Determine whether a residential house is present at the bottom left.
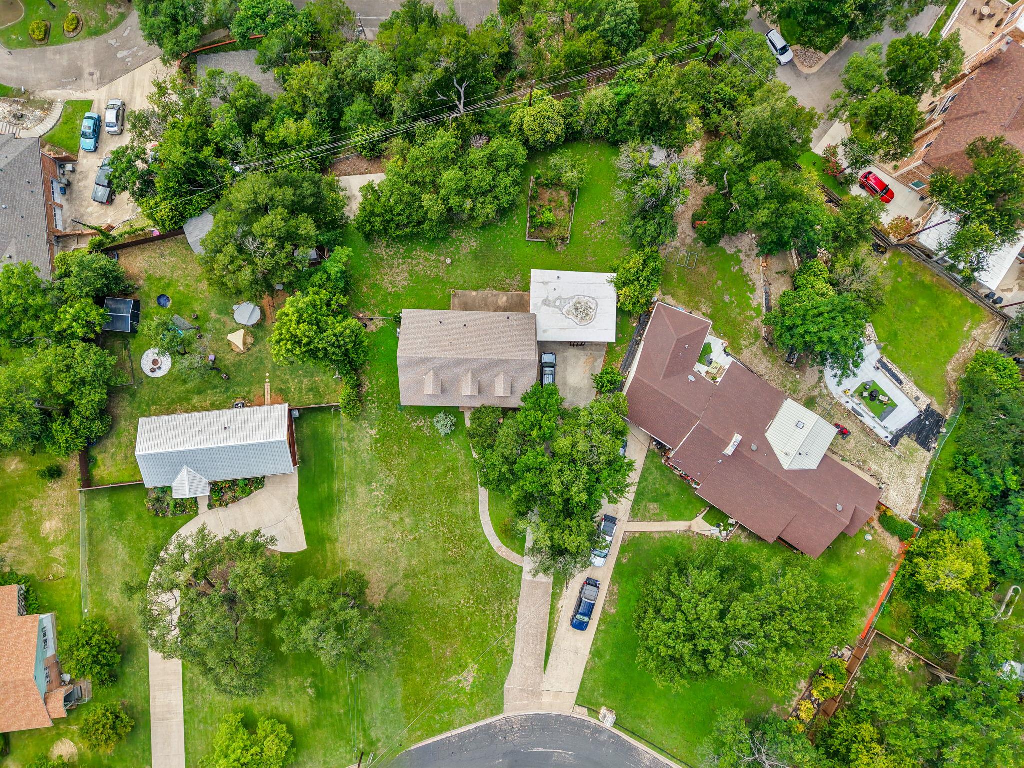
Yes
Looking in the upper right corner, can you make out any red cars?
Yes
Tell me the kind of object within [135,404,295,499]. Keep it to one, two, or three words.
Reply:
house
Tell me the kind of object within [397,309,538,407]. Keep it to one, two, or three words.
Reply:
house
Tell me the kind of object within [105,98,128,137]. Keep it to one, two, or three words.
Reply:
car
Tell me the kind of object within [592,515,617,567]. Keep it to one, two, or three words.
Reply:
truck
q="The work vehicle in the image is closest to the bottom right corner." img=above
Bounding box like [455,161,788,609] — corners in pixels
[837,425,852,440]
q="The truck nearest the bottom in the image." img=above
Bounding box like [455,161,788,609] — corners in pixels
[573,578,599,632]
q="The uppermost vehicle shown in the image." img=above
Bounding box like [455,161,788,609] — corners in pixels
[764,30,794,69]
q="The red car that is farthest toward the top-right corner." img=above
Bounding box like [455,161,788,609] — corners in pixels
[857,169,897,205]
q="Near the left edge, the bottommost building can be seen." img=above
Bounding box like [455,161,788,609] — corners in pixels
[0,582,69,733]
